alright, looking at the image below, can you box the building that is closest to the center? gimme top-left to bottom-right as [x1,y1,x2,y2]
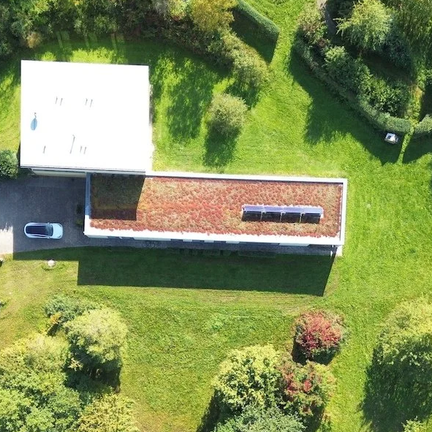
[84,177,348,257]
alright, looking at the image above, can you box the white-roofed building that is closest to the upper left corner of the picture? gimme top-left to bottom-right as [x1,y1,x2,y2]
[21,61,152,179]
